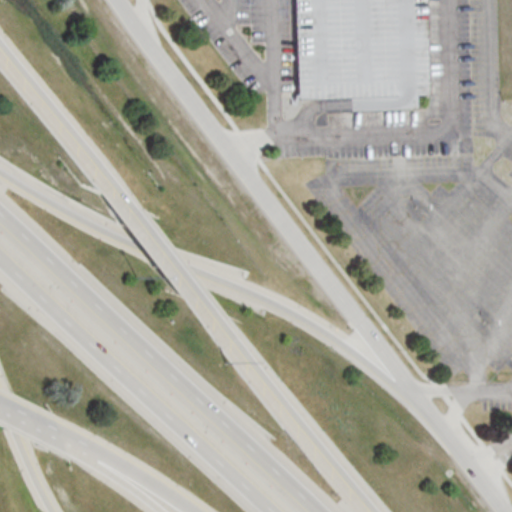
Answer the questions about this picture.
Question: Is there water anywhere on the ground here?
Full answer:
No, there is no water in the image.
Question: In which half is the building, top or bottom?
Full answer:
It is in the top half that the building appears.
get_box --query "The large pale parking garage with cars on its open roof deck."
[296,0,430,112]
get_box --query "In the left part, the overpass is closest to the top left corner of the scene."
[112,198,215,314]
